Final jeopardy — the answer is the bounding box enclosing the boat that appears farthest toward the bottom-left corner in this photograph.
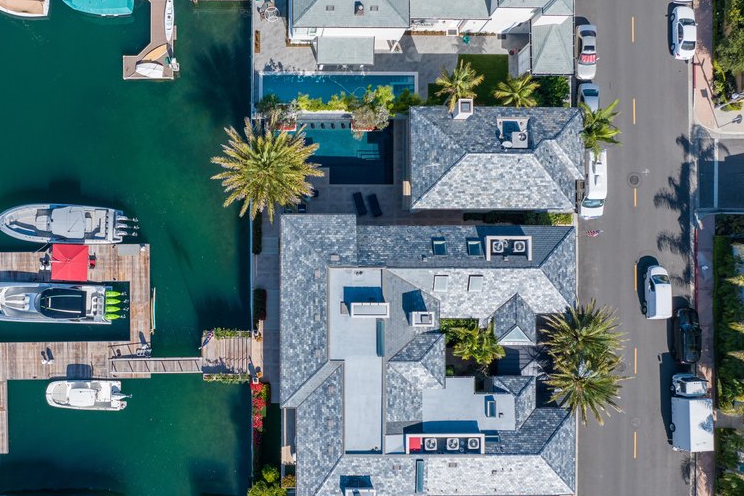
[45,380,143,408]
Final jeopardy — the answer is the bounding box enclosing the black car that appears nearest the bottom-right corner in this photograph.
[669,308,703,364]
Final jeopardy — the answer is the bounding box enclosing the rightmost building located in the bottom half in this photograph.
[278,214,575,496]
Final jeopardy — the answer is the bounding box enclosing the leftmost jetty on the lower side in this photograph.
[0,244,151,454]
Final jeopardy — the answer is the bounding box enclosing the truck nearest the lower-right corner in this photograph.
[669,372,715,452]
